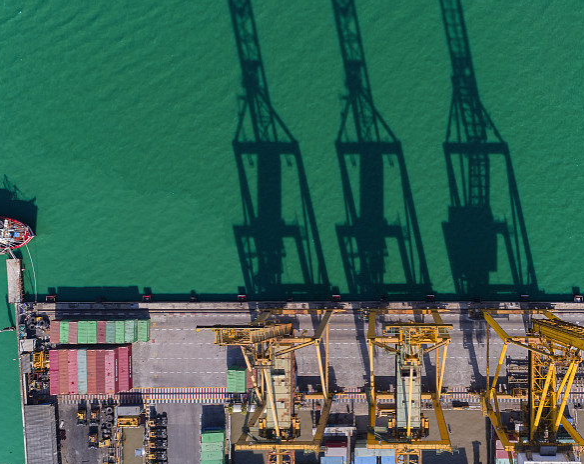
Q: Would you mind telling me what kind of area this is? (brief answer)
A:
port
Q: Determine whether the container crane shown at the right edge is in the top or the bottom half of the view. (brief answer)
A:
bottom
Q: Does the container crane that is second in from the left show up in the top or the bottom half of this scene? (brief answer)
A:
bottom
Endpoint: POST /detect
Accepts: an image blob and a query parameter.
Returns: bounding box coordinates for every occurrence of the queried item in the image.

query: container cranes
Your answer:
[194,310,353,464]
[353,310,459,464]
[461,310,584,464]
